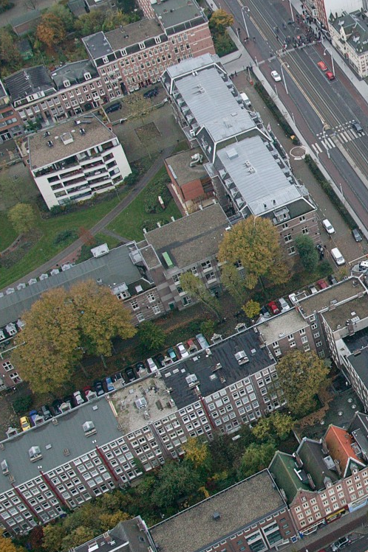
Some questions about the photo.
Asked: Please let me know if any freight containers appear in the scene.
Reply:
No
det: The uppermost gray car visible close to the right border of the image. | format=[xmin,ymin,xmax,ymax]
[351,119,363,134]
